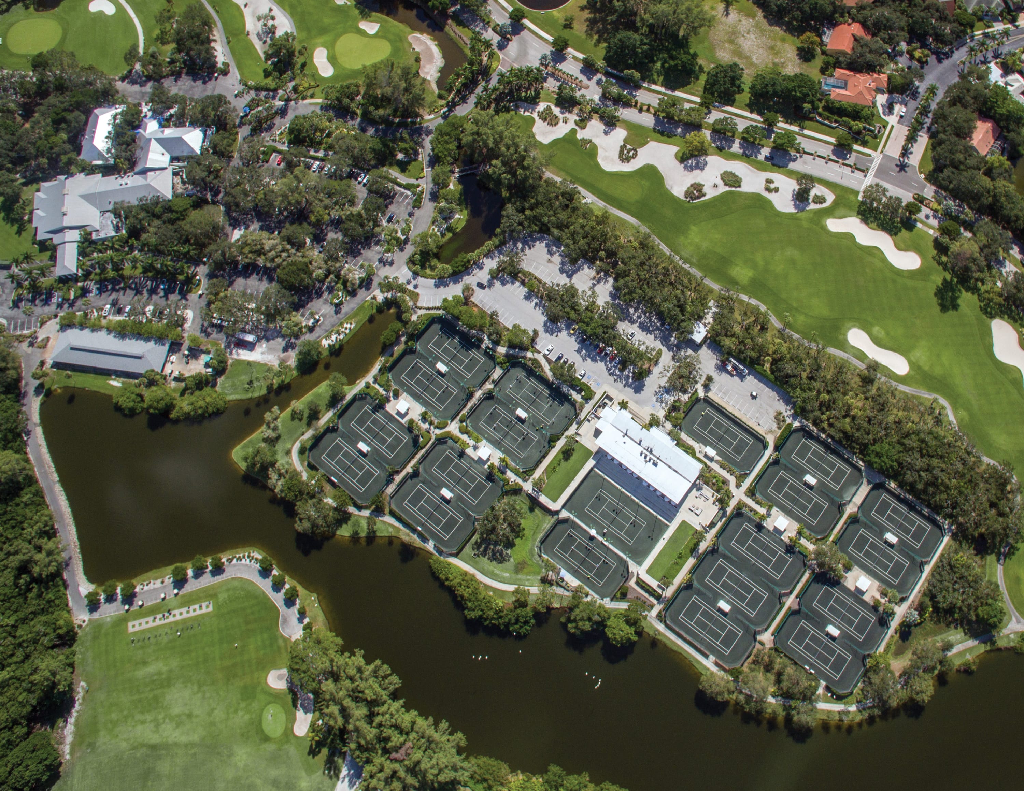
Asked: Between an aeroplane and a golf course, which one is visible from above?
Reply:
golf course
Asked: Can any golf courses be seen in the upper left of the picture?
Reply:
Yes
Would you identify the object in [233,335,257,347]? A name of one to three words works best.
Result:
vehicle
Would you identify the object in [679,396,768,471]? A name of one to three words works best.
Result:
tennis court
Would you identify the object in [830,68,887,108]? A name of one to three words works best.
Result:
house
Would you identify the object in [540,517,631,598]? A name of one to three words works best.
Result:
tennis court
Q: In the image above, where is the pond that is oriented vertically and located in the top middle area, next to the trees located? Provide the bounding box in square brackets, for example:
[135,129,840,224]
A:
[439,146,503,263]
